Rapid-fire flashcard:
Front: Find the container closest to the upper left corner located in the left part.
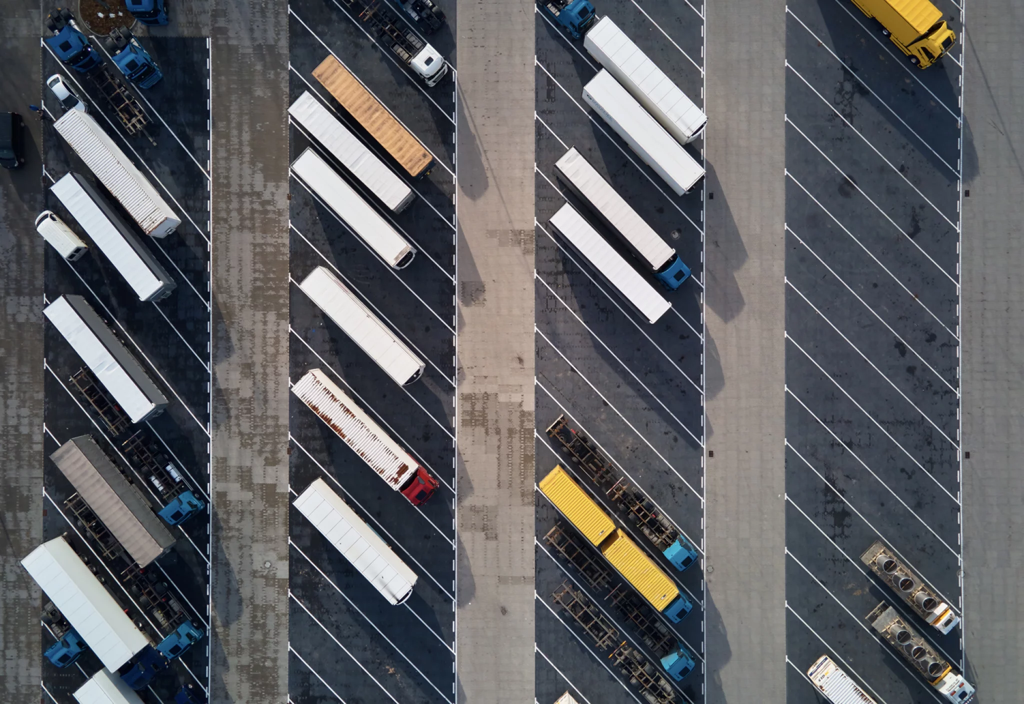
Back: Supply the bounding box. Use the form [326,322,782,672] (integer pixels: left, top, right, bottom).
[54,109,181,240]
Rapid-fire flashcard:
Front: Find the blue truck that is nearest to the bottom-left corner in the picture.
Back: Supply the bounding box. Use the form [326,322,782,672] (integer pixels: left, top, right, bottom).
[46,601,92,662]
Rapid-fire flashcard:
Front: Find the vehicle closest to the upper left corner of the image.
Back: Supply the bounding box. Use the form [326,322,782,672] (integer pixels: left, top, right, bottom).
[45,8,101,72]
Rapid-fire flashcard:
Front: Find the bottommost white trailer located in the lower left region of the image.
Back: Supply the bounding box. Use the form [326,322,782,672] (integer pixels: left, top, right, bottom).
[72,666,150,704]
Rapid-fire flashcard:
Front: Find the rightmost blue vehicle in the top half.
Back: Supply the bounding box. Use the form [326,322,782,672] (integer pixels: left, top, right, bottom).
[628,252,687,291]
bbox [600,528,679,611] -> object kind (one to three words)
shipping container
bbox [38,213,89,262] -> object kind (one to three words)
van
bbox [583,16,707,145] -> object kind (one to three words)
trailer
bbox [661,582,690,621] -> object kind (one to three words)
truck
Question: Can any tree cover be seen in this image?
No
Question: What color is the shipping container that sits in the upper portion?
white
